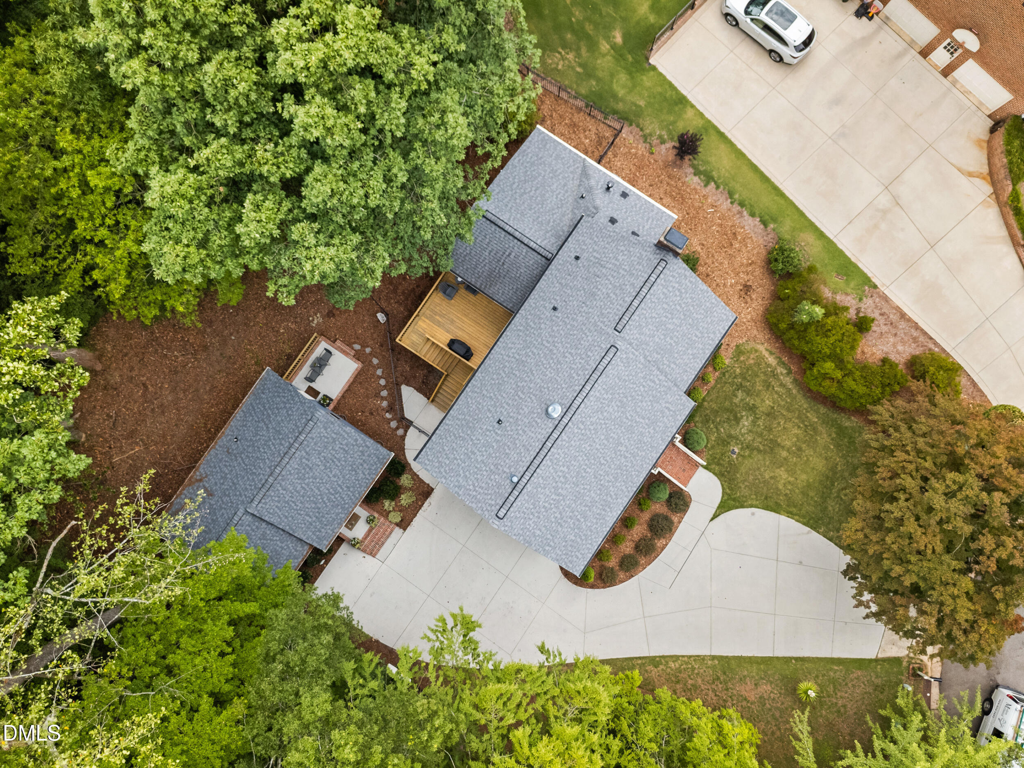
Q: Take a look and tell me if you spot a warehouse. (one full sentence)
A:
No, the scene contains no warehouse.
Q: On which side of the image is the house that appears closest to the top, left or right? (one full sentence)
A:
It is on the right.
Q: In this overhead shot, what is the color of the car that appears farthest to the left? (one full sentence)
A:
The color of the car that appears farthest to the left is white.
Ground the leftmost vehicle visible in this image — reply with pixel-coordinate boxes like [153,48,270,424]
[718,0,818,65]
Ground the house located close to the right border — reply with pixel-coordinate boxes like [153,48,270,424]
[857,0,1024,122]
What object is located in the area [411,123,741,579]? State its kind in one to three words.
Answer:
house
